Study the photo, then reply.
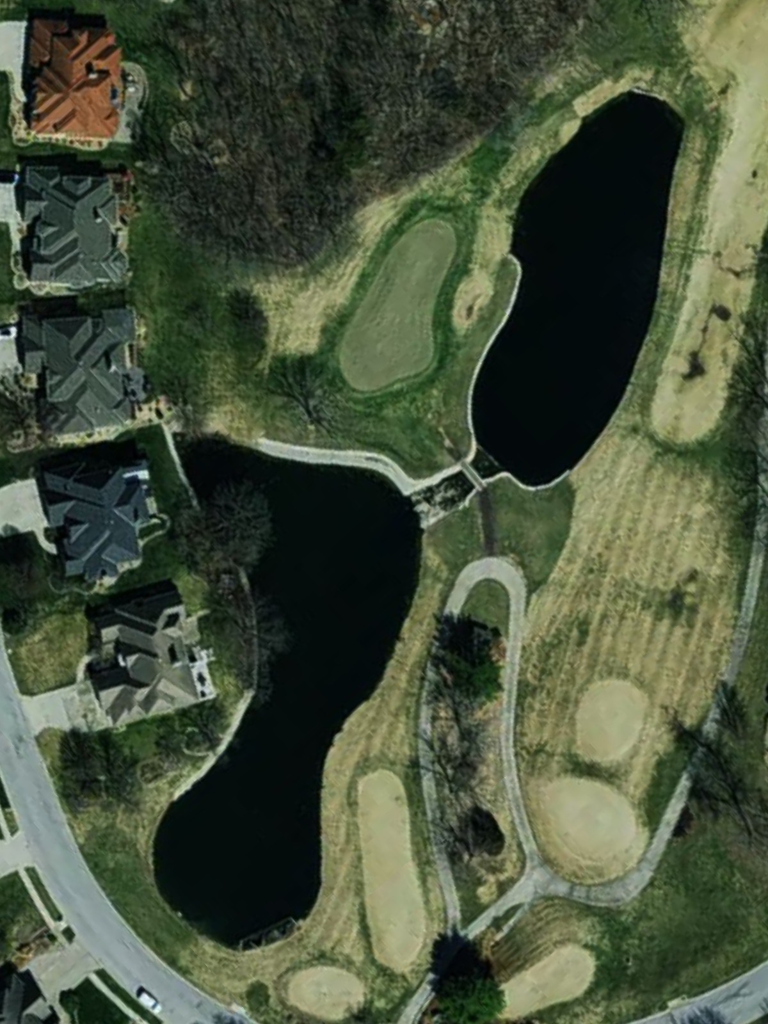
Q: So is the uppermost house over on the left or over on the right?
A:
left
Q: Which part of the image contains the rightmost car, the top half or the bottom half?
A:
bottom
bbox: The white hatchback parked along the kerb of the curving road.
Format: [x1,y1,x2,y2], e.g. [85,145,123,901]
[138,990,159,1010]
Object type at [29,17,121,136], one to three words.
house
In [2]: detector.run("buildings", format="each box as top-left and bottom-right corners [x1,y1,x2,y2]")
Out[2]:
[29,17,121,136]
[36,456,152,584]
[24,165,127,285]
[0,962,59,1024]
[21,308,135,433]
[88,588,204,724]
